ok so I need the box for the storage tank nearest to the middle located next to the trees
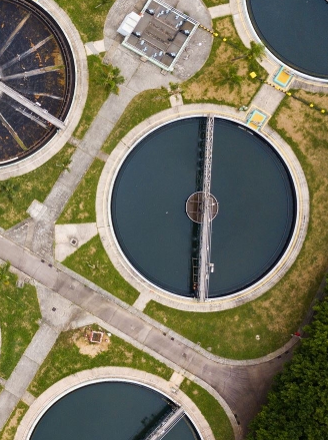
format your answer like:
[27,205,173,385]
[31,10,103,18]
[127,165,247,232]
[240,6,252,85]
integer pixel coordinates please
[97,102,307,312]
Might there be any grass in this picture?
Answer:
Yes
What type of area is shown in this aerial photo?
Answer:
industrial area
